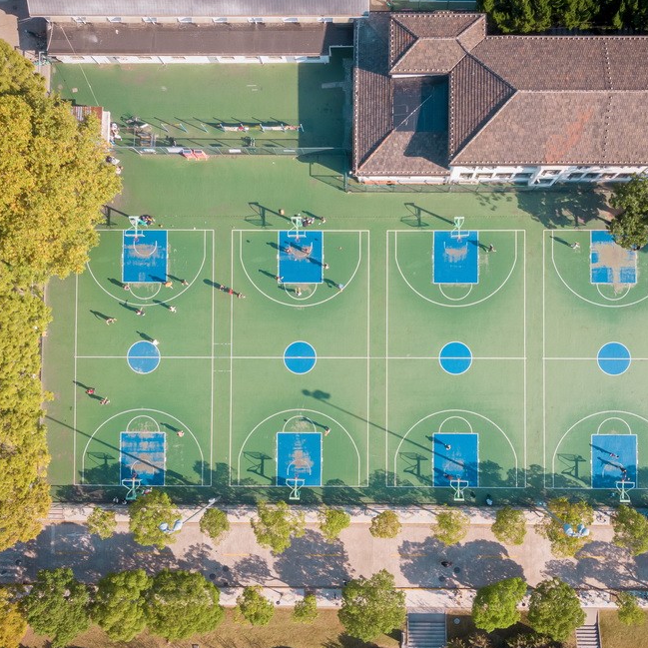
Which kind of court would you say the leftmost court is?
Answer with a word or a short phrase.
basketball court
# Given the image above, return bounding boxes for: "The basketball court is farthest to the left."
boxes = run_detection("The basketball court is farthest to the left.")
[71,226,218,491]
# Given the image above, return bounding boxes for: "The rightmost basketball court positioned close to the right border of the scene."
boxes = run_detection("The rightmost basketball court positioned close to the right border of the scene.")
[541,227,648,491]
